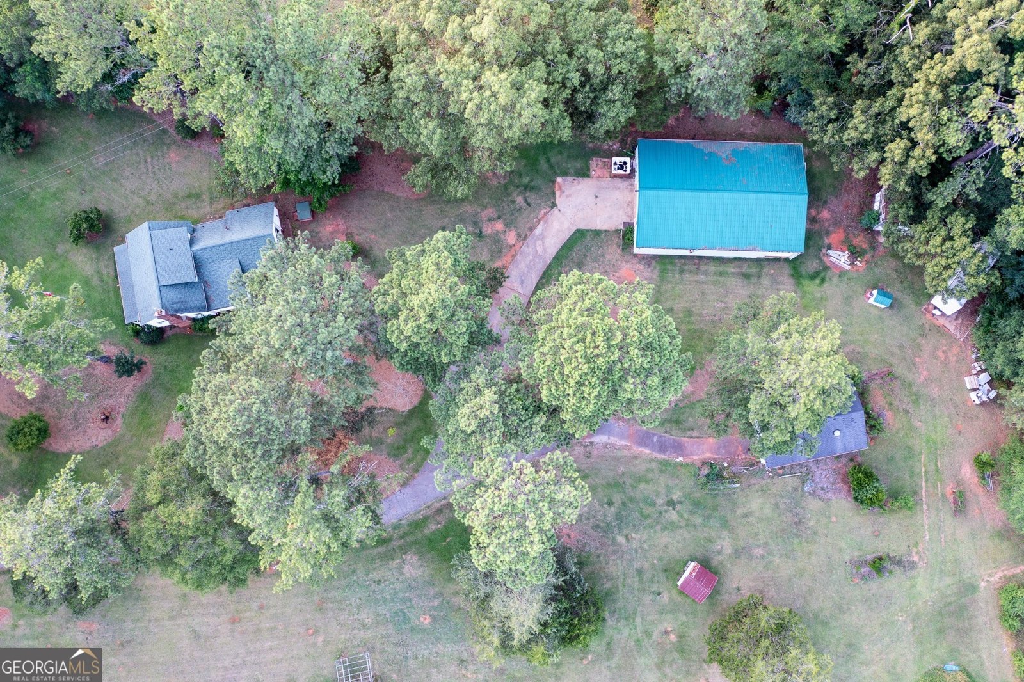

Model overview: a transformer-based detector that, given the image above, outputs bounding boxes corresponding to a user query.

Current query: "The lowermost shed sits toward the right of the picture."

[673,556,718,603]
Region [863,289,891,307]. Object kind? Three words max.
building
